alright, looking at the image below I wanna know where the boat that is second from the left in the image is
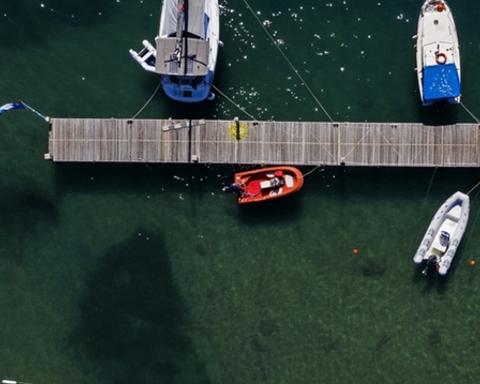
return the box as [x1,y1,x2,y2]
[153,0,225,109]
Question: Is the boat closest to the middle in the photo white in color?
No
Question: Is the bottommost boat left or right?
right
